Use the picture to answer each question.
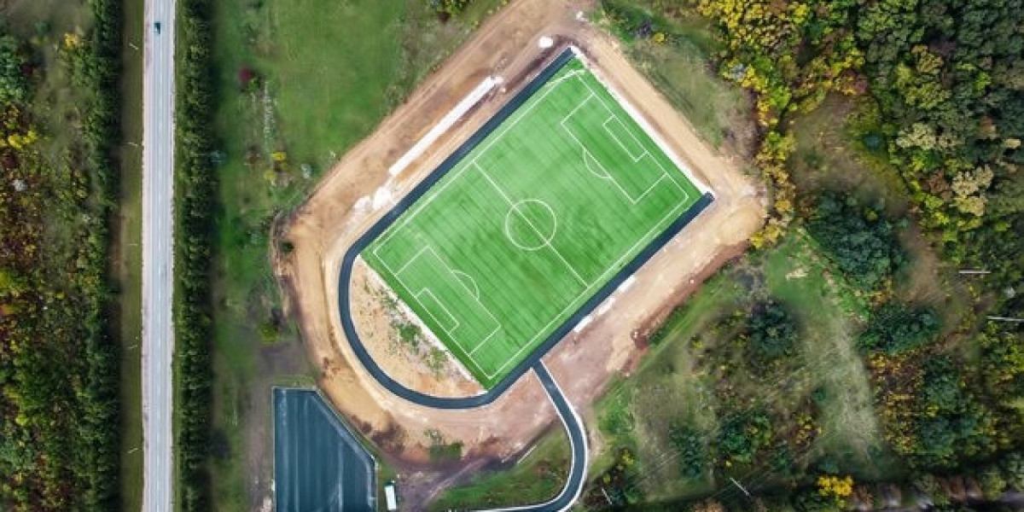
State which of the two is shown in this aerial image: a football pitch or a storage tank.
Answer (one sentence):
Of the two, only a football pitch appears.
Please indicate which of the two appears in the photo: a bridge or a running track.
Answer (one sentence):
This aerial view contains a running track.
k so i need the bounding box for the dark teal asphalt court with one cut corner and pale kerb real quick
[272,388,377,512]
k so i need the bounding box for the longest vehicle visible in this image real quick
[383,480,395,509]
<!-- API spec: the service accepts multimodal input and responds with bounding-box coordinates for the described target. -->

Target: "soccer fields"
[362,59,700,390]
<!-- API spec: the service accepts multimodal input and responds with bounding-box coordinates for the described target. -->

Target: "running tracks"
[338,50,714,409]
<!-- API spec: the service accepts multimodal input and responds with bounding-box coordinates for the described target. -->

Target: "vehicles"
[383,480,395,509]
[153,21,159,33]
